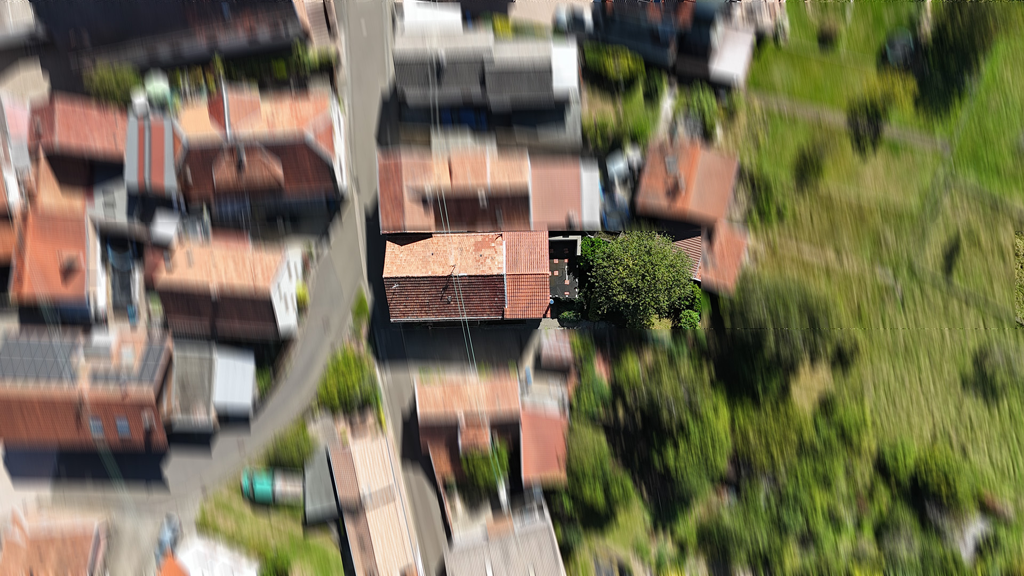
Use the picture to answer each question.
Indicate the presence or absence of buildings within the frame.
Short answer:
Yes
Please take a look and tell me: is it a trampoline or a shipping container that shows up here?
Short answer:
trampoline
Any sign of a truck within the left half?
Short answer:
Yes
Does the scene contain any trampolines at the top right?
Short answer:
Yes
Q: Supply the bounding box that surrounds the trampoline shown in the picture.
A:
[878,23,930,67]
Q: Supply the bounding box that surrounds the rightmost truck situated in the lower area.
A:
[245,464,306,503]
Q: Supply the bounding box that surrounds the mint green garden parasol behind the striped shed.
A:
[147,74,174,101]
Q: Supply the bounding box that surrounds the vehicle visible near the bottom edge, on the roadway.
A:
[156,507,191,556]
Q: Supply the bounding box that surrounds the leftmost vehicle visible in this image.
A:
[114,268,138,311]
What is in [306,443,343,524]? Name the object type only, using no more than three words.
shed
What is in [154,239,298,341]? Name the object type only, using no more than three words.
house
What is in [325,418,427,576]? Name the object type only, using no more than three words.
barn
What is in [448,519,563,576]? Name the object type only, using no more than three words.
building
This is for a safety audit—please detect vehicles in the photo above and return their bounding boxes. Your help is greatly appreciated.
[575,0,591,42]
[156,507,191,556]
[550,0,575,41]
[114,268,138,311]
[245,464,306,503]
